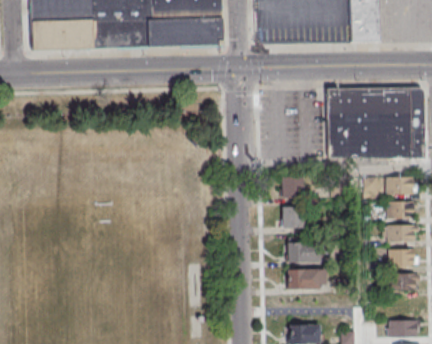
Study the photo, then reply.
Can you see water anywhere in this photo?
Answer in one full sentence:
No, water can't be seen anywhere here.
